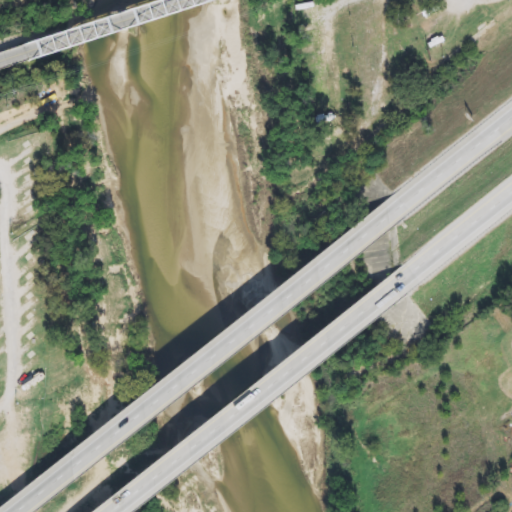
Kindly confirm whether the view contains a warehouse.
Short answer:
No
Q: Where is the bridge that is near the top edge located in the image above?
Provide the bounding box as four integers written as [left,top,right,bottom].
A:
[0,0,211,67]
